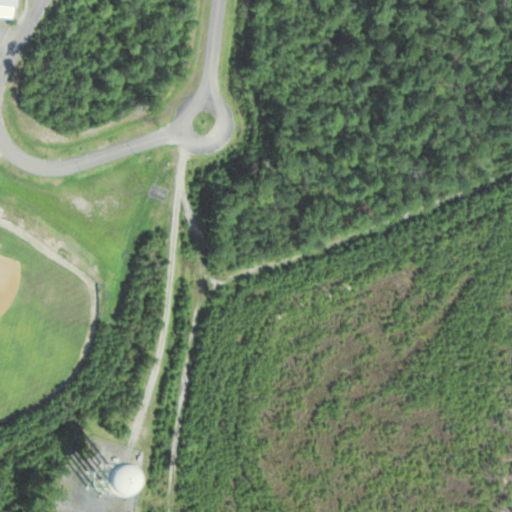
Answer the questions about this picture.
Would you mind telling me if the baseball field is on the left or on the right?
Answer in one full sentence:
It is on the left.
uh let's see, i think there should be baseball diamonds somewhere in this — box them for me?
[0,218,97,421]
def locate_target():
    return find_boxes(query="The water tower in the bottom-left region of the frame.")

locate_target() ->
[87,462,142,500]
